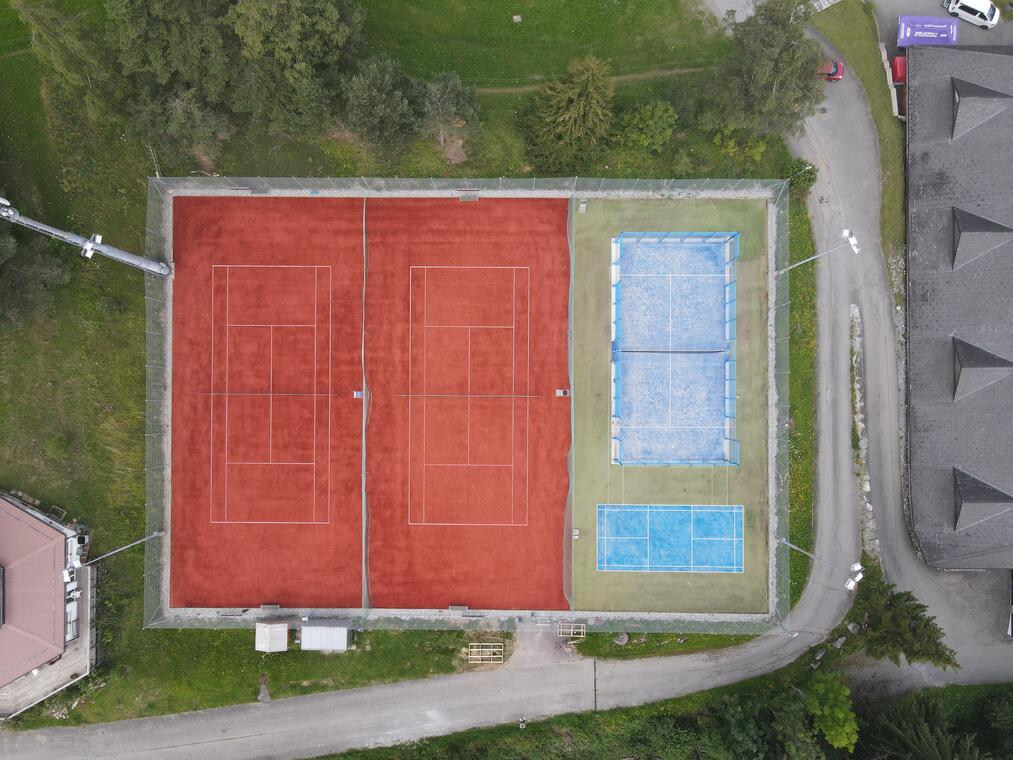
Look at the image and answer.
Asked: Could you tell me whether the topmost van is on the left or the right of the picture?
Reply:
right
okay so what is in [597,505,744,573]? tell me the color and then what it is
blue sports court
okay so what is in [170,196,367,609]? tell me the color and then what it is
red tennis court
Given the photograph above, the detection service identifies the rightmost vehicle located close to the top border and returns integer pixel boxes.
[938,0,999,33]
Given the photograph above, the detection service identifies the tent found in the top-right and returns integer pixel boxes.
[885,17,958,57]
